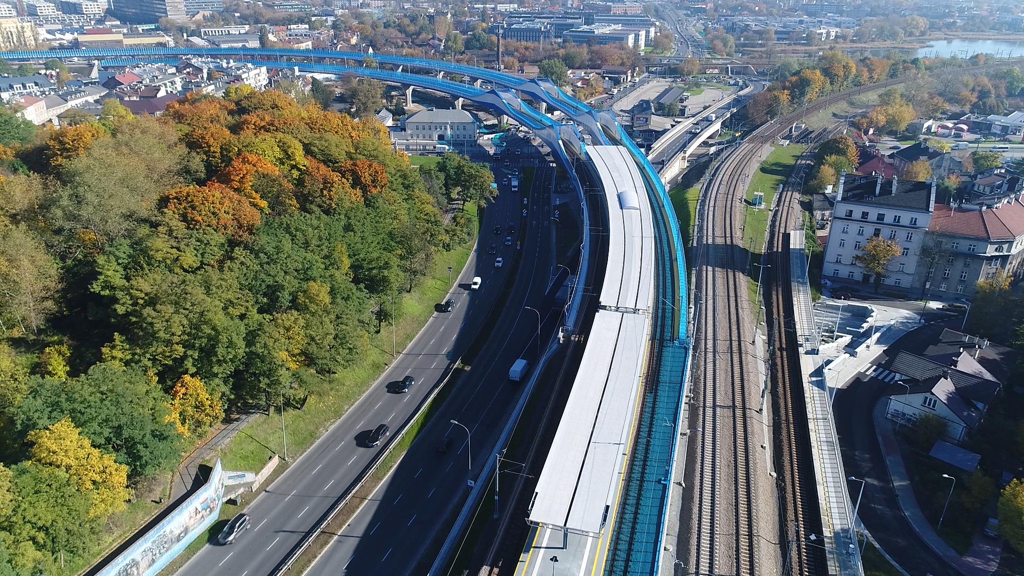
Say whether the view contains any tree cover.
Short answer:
Yes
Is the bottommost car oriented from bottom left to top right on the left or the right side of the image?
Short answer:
left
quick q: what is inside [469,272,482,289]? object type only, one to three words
vehicle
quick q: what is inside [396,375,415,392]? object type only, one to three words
car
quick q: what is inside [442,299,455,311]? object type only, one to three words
vehicle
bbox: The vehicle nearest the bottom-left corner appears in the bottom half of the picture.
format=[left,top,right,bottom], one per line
[219,513,250,541]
